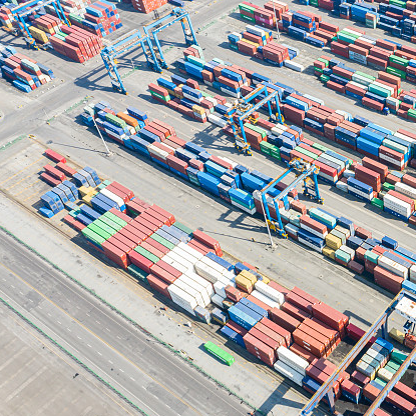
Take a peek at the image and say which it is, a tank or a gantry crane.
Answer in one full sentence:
Of the two, only a gantry crane appears.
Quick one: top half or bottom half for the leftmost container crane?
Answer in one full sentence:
It is in the top half that the leftmost container crane appears.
